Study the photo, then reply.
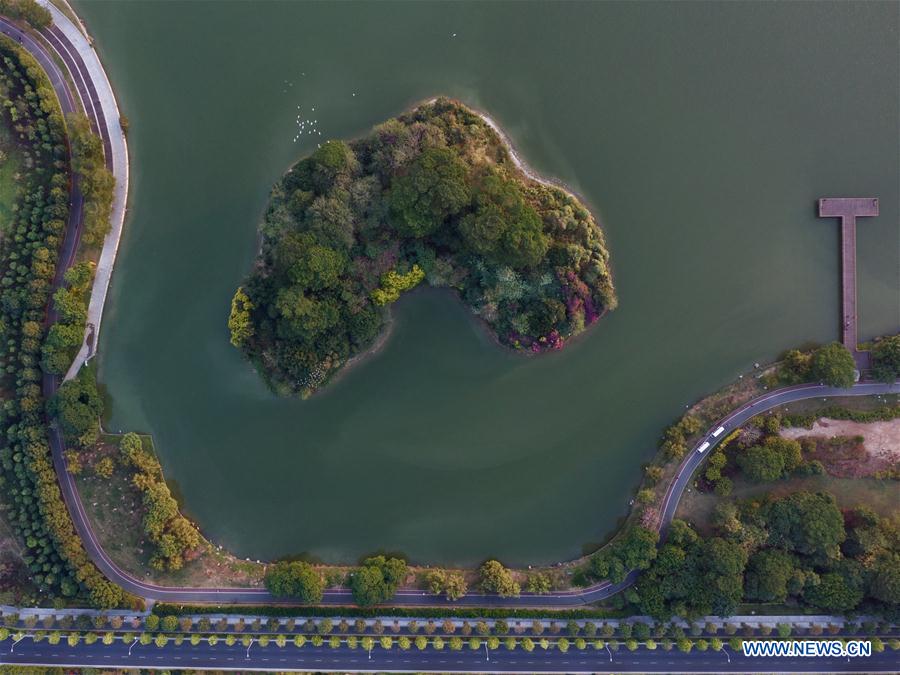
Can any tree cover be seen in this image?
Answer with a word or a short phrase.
Yes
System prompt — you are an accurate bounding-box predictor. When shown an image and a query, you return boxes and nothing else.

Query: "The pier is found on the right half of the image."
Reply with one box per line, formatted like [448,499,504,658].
[819,198,881,383]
